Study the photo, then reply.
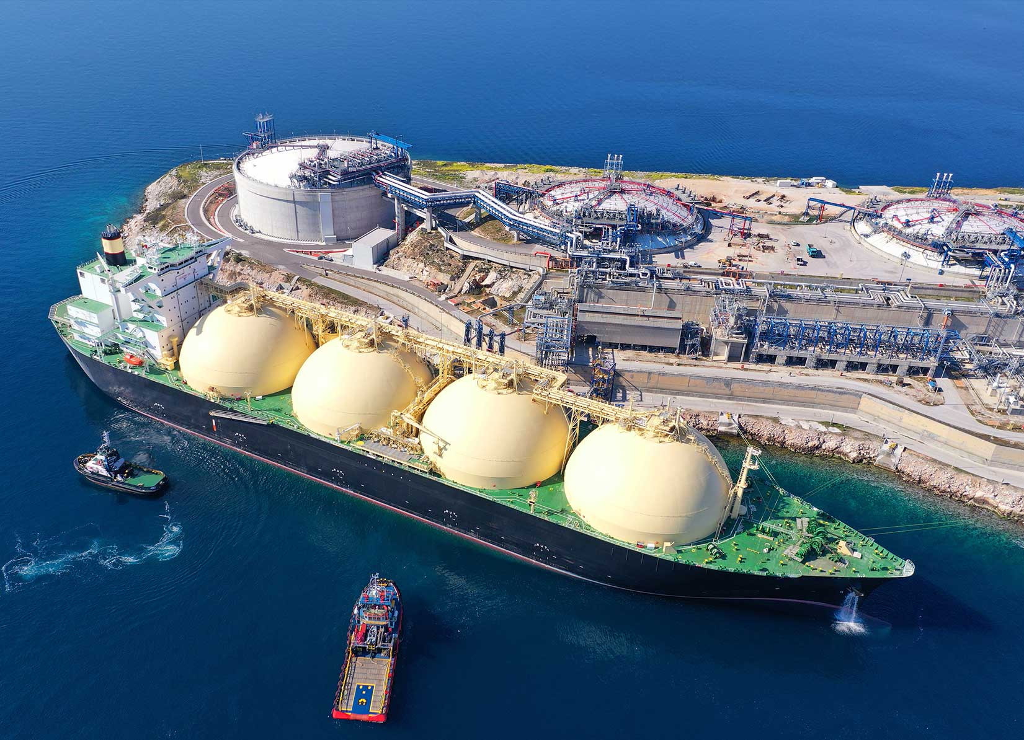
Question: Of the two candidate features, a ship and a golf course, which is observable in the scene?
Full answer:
This aerial view contains a ship.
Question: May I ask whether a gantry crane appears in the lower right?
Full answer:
No, no gantry crane can be made out in the lower right.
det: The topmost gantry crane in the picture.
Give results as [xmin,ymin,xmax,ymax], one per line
[371,126,412,175]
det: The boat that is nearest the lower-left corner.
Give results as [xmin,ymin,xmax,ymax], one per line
[69,420,173,491]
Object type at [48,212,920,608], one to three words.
ship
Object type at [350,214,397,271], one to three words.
shed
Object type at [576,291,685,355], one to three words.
building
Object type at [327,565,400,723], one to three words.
boat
